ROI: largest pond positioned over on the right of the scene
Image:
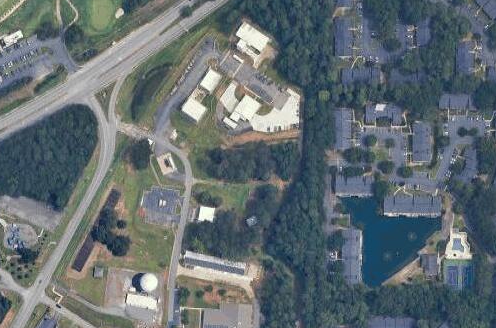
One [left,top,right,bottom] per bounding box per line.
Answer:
[337,195,443,287]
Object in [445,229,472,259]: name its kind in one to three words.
swimming pool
